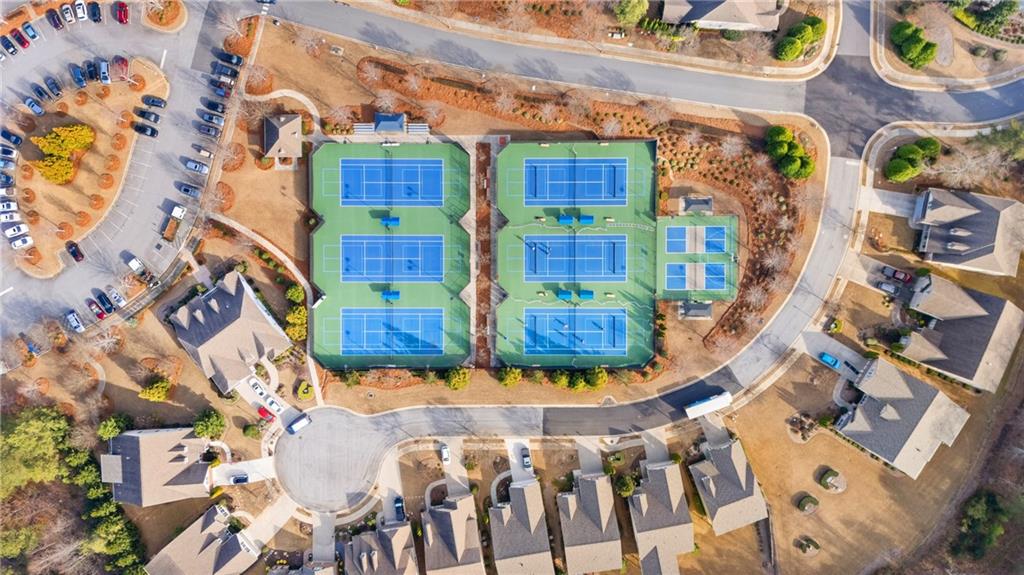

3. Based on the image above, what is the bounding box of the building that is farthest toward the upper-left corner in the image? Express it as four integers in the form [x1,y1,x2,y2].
[264,115,304,160]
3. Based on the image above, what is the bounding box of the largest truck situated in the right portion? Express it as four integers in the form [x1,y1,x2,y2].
[677,389,730,418]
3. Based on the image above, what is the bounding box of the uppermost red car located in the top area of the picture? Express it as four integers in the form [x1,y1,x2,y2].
[117,3,130,25]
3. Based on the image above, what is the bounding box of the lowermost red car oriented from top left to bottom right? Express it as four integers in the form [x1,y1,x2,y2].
[257,405,276,424]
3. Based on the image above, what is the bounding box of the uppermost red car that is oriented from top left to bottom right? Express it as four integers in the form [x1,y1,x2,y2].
[12,29,31,49]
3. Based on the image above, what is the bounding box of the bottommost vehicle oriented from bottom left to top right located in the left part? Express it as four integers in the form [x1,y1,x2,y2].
[287,414,313,434]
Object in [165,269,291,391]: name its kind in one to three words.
house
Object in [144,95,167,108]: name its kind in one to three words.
vehicle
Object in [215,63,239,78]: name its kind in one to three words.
vehicle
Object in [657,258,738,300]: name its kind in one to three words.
sports court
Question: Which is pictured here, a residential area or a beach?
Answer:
residential area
